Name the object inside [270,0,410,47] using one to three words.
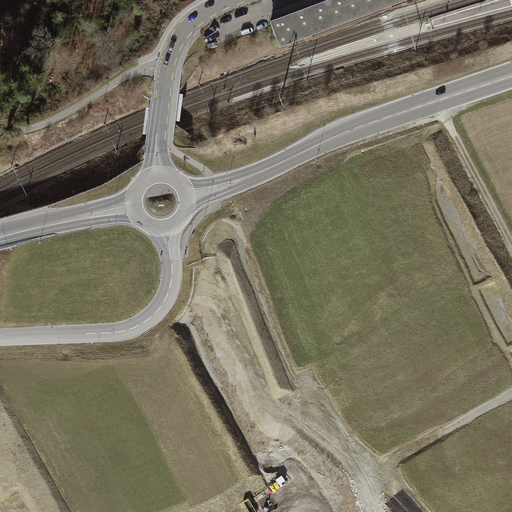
building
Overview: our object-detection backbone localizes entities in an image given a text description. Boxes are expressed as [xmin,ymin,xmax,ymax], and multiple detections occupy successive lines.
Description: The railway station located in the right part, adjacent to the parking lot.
[289,0,512,68]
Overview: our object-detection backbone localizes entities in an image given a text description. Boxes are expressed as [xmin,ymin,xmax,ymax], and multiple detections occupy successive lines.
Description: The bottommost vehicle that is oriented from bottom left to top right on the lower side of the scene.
[256,478,286,512]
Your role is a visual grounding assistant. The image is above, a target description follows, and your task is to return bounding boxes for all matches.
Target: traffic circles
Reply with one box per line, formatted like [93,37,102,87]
[88,146,231,260]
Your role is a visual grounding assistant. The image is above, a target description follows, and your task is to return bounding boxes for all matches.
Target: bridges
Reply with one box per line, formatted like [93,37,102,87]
[144,68,190,157]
